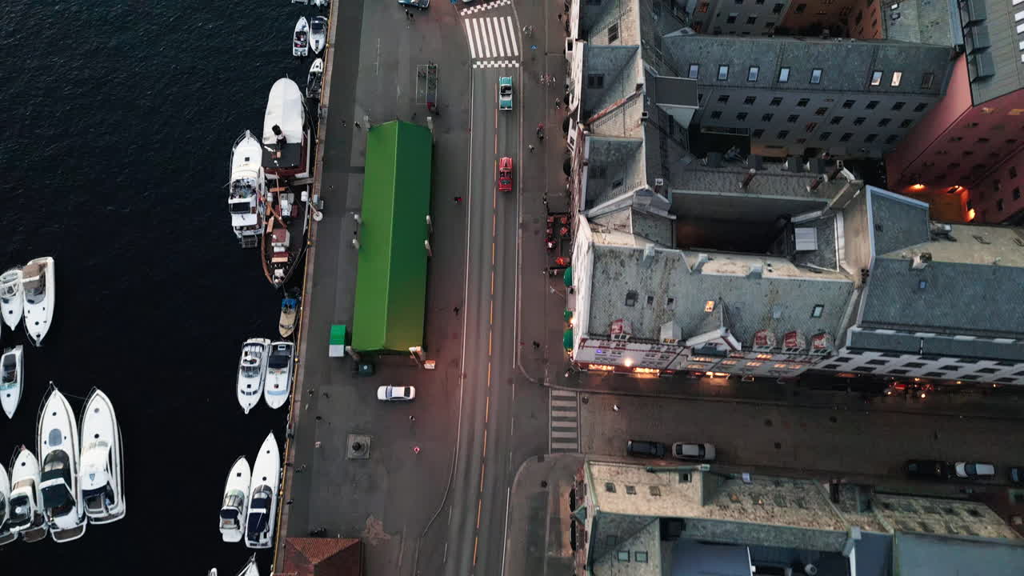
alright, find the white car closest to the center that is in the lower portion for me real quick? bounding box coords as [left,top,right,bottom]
[377,384,416,400]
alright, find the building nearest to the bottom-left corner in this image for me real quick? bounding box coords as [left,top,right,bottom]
[283,536,364,576]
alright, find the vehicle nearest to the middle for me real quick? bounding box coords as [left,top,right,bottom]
[498,156,513,194]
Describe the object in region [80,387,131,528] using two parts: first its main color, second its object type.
white boat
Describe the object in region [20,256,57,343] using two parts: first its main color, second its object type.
white boat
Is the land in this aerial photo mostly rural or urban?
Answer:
urban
